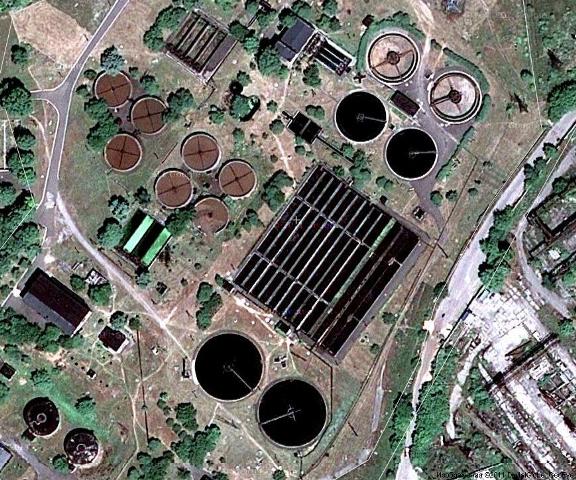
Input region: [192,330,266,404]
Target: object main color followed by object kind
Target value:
black storage tank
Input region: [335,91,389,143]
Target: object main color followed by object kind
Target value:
black storage tank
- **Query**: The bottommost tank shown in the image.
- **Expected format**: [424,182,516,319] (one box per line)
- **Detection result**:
[64,429,100,465]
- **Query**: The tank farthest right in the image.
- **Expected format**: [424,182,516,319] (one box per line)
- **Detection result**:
[429,70,482,123]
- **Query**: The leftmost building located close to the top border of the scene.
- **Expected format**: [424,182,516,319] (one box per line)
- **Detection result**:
[277,15,319,66]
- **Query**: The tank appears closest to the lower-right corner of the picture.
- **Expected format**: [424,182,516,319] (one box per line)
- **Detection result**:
[254,376,328,450]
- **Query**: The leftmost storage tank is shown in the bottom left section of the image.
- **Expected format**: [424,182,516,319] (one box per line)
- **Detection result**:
[22,399,60,436]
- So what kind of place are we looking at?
industrial area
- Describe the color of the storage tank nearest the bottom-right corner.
black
